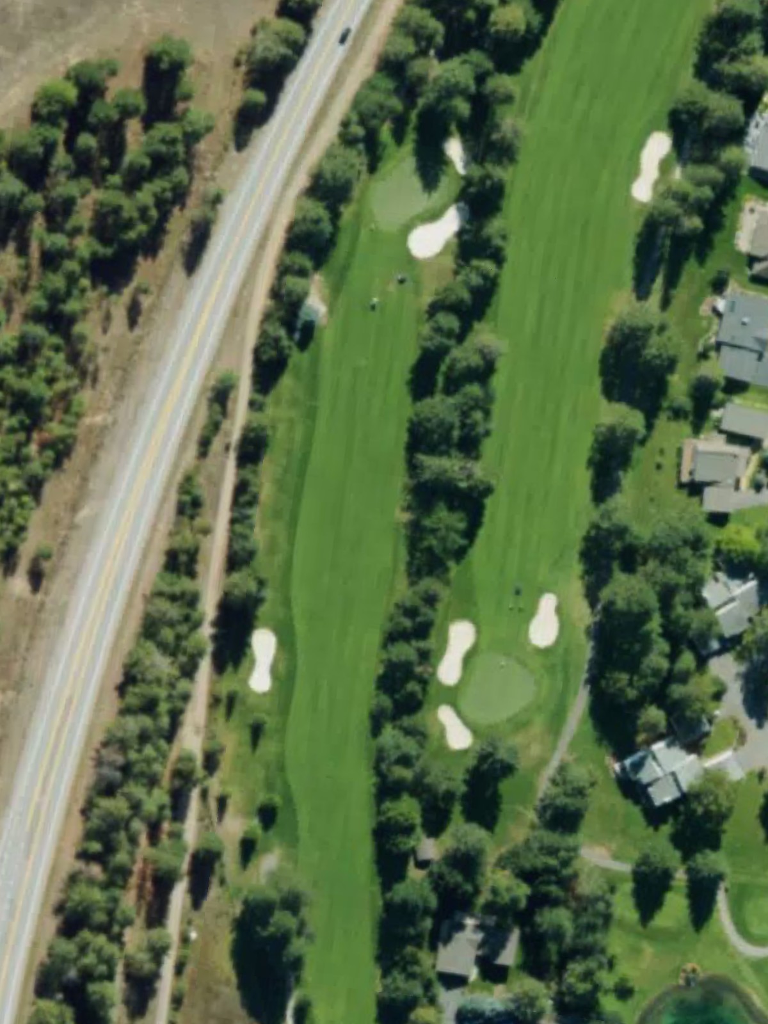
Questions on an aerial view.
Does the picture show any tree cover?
Yes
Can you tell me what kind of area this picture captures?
golf course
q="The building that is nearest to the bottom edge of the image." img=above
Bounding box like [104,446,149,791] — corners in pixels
[437,919,522,978]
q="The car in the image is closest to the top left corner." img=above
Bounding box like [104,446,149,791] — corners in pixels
[338,27,352,44]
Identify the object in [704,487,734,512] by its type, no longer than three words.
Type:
building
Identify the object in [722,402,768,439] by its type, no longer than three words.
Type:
house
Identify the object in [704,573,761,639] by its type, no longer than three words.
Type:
house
